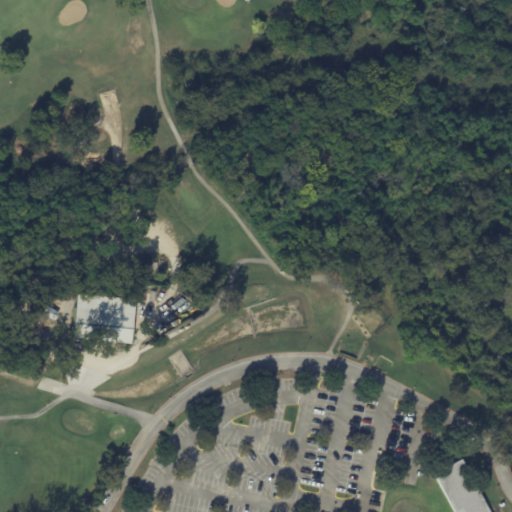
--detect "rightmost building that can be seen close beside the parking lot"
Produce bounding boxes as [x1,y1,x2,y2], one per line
[432,456,492,512]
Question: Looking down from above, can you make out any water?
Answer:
No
